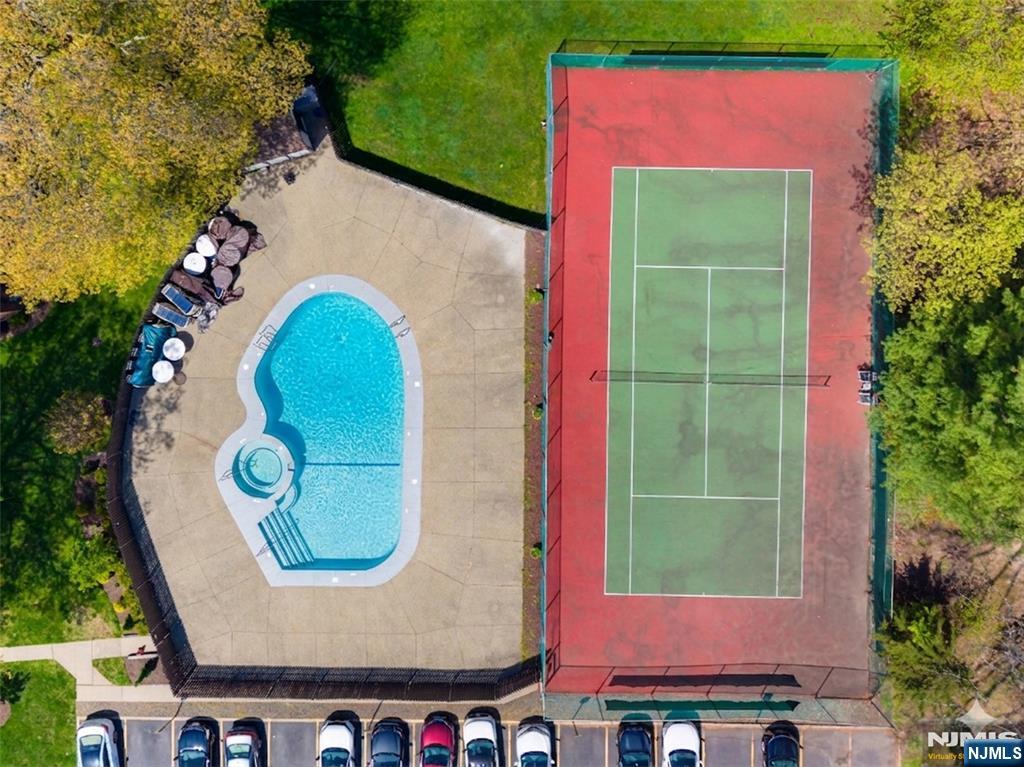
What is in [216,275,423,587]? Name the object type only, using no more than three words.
swimming pool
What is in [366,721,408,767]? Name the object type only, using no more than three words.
car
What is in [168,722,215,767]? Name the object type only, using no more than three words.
car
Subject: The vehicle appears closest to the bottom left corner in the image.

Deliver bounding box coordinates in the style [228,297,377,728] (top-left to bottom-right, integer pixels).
[74,717,117,767]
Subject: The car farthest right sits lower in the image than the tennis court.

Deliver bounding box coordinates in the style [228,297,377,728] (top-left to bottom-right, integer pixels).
[763,728,802,767]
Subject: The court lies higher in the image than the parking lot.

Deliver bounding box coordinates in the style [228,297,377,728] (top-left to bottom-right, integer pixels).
[547,68,876,697]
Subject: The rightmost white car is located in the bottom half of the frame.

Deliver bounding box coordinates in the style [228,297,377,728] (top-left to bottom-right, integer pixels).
[663,718,708,767]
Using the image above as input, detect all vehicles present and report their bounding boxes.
[221,727,259,767]
[459,713,502,767]
[663,718,708,767]
[763,728,802,767]
[416,717,458,767]
[314,718,357,767]
[617,721,659,767]
[366,721,408,767]
[168,722,215,767]
[74,717,117,767]
[513,721,555,767]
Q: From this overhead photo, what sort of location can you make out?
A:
sports ground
